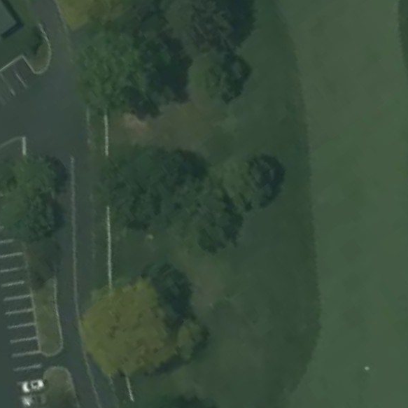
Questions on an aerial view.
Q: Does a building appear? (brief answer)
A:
No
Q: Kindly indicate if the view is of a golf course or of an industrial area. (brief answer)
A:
golf course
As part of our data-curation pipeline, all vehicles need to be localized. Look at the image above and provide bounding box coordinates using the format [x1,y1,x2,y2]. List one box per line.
[20,378,44,392]
[21,394,45,407]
